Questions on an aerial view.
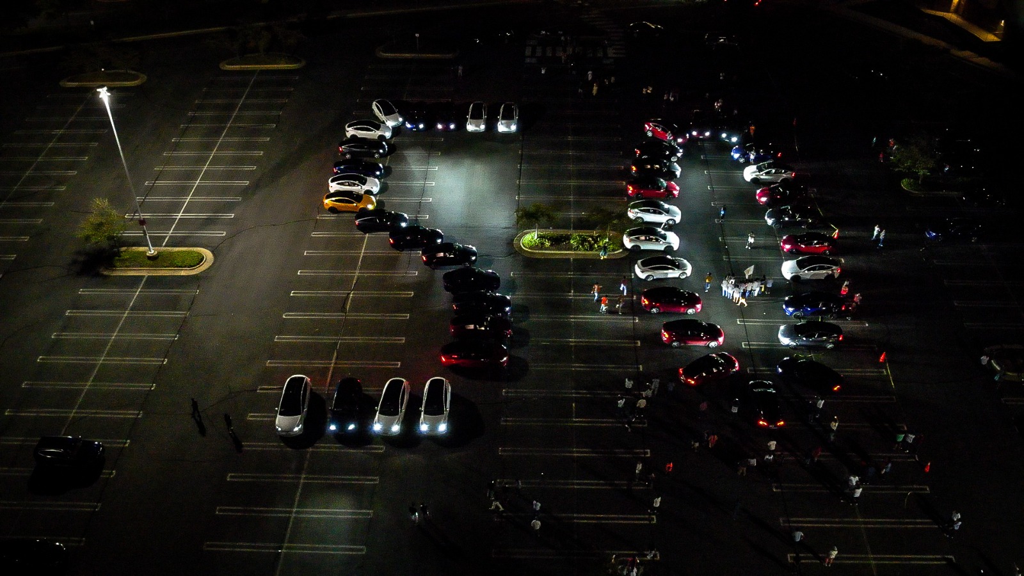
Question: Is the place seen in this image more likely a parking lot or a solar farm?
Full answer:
This image shows a parking lot.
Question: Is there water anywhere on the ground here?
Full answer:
No, the picture contains no water.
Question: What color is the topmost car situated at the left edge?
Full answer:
The topmost car situated at the left edge looks black in the image.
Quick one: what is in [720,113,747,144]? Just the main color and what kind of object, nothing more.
black car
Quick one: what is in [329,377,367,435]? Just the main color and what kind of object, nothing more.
black car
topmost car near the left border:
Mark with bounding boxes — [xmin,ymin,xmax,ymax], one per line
[25,431,111,473]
